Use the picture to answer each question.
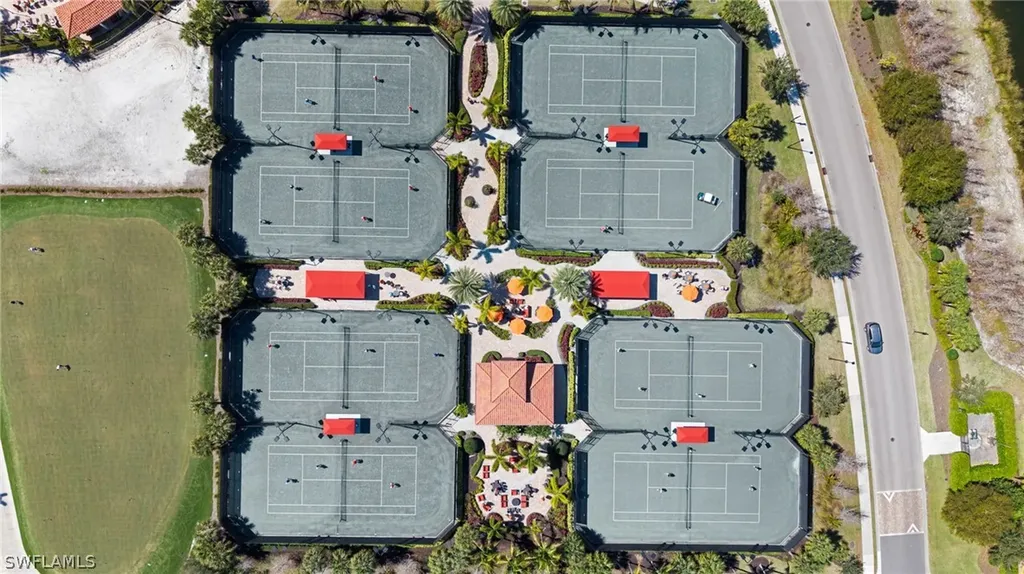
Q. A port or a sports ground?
sports ground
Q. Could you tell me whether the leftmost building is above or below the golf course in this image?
above it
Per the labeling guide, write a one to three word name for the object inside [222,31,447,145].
tennis court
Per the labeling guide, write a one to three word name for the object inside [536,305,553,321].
umbrella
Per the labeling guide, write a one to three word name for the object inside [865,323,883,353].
car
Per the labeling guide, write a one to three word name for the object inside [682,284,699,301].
umbrella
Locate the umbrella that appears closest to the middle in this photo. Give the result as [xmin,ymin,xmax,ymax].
[508,277,524,294]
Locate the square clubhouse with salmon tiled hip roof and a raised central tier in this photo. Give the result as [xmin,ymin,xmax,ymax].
[475,359,554,425]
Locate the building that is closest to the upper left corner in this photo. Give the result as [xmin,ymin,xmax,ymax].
[50,0,154,42]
